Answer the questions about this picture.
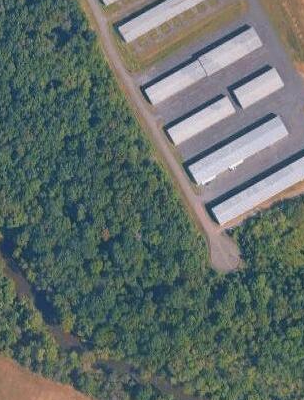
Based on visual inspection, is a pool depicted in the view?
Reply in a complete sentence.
No, the scene contains no pool.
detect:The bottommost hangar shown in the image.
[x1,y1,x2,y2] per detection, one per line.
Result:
[212,157,304,225]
